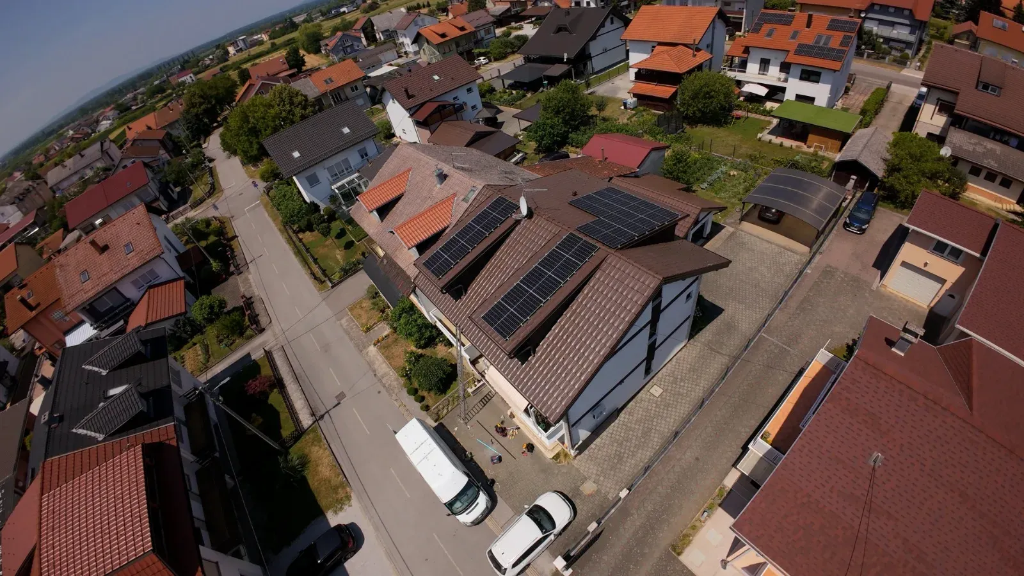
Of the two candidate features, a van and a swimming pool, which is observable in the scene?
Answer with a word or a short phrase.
van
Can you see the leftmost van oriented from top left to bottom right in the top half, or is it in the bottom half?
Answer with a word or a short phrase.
bottom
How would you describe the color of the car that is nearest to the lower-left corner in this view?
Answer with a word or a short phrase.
black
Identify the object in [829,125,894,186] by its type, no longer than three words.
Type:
building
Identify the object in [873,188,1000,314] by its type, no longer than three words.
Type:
house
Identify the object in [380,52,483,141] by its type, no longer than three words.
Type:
house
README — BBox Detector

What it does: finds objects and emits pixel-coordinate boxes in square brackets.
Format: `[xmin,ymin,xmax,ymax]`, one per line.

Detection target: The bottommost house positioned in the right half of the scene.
[729,316,1024,576]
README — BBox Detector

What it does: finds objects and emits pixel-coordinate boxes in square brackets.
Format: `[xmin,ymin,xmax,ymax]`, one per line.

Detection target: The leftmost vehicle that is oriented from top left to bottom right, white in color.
[393,415,492,529]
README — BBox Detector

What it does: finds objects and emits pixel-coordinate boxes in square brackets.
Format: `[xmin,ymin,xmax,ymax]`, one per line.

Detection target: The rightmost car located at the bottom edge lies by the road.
[489,490,579,576]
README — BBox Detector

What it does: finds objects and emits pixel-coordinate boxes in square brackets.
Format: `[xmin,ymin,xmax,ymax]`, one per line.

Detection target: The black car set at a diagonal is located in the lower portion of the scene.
[281,509,363,576]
